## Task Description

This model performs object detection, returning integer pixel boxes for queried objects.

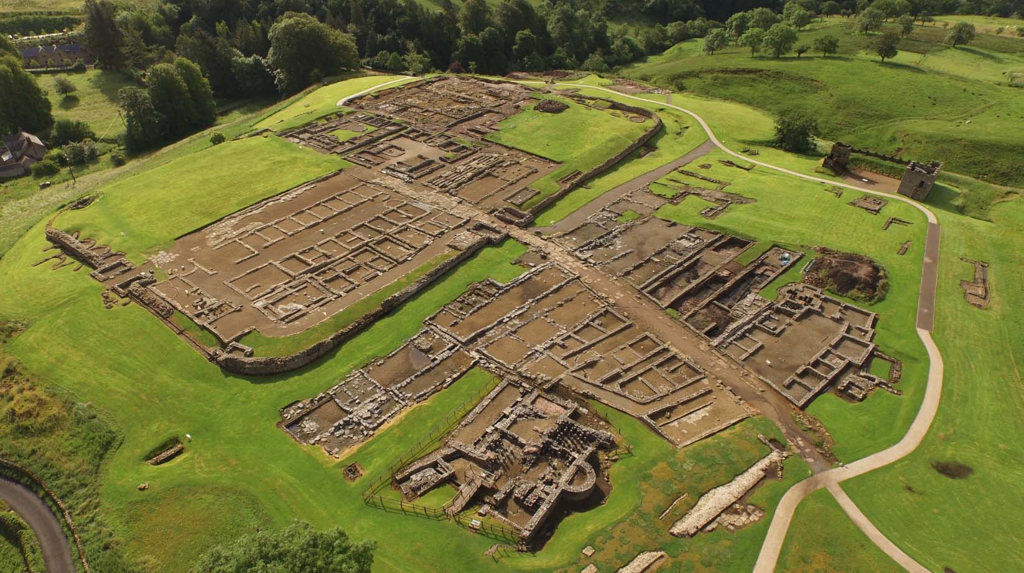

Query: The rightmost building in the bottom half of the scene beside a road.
[732,280,878,412]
